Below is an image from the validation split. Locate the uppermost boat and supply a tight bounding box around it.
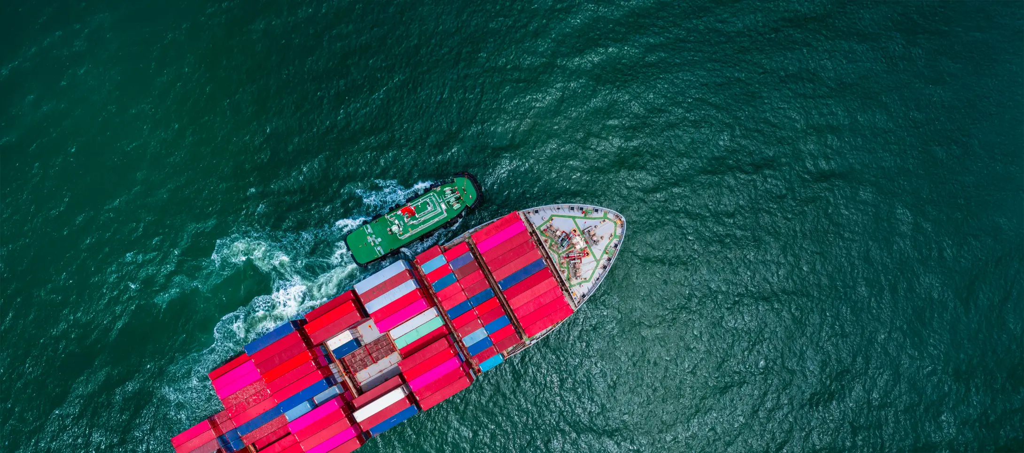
[345,172,483,268]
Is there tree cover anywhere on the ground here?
No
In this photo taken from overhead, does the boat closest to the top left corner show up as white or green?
green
